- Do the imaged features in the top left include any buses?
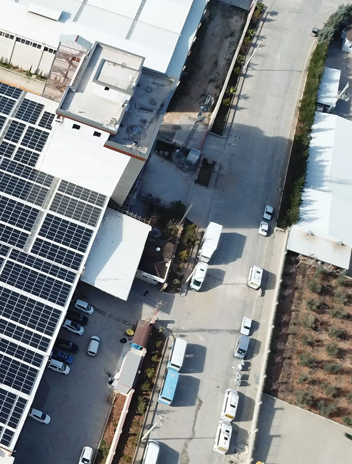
No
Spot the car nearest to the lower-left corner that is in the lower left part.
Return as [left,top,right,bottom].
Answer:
[27,408,52,426]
